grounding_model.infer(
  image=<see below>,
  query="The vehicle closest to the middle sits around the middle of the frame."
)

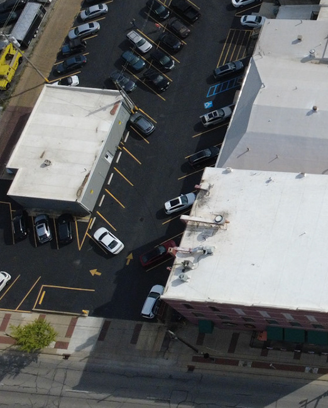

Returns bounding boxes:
[162,191,196,215]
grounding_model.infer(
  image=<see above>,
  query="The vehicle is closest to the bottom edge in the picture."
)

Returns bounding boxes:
[136,282,165,318]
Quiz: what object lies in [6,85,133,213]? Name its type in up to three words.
building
